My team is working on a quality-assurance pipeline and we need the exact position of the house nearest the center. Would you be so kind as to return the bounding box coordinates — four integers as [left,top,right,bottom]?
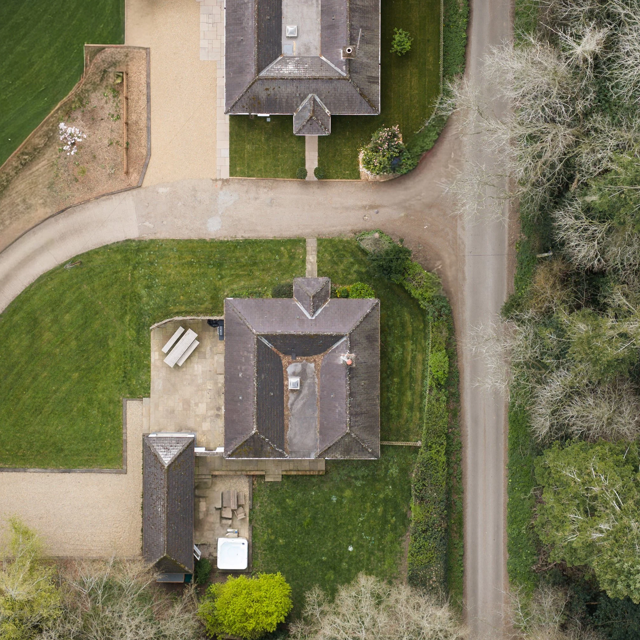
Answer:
[223,276,381,460]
